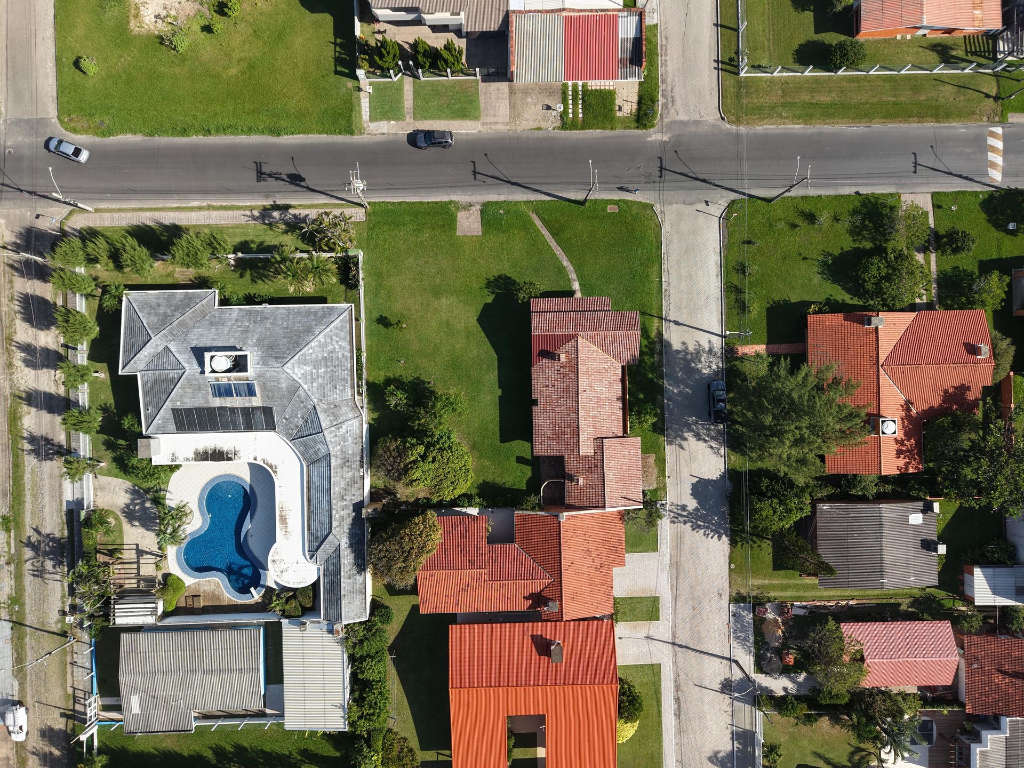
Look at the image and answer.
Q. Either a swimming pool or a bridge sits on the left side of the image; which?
swimming pool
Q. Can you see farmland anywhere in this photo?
No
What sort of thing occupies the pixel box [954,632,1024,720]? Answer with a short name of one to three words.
house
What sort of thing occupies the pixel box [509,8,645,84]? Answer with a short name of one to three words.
shed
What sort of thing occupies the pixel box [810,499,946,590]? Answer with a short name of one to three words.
house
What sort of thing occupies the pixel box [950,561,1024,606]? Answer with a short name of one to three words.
shed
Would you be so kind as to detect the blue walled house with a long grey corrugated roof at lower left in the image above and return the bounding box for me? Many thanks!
[118,622,273,734]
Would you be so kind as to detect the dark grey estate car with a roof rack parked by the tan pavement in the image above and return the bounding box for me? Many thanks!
[416,128,453,149]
